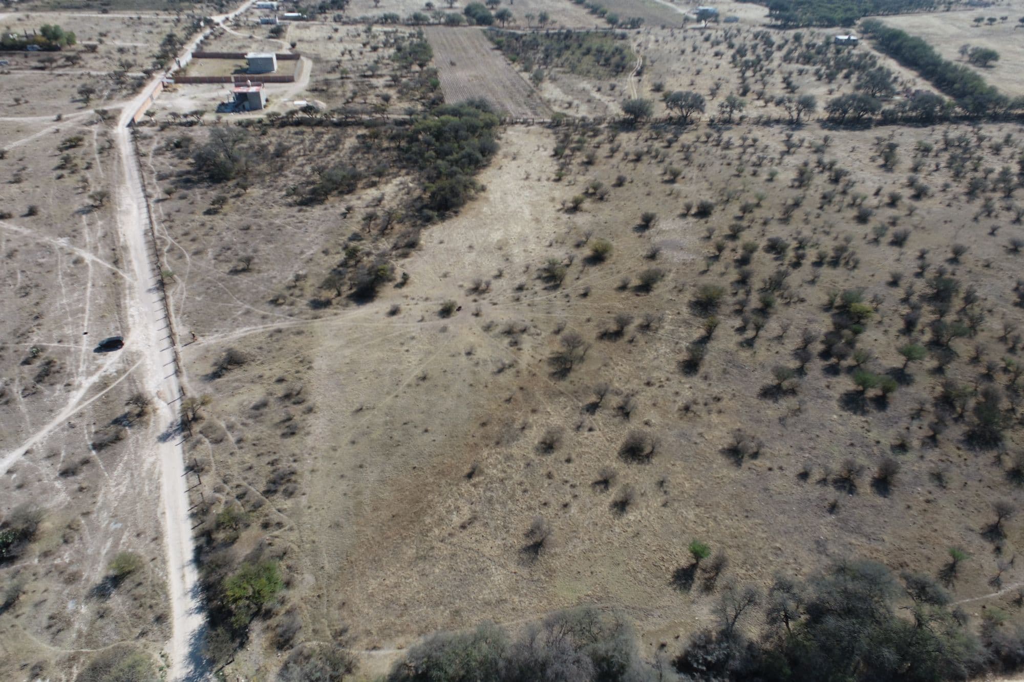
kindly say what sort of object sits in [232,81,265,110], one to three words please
house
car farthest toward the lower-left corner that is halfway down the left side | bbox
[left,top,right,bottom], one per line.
[95,334,127,351]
